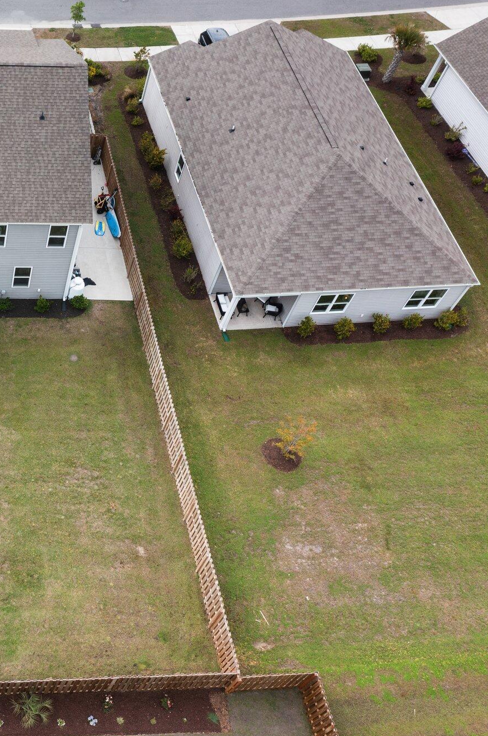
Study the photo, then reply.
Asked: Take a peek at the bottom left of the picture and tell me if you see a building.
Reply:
No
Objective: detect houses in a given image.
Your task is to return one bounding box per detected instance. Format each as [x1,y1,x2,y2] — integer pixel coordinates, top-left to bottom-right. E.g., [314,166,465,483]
[140,22,480,330]
[421,16,488,167]
[0,29,97,301]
